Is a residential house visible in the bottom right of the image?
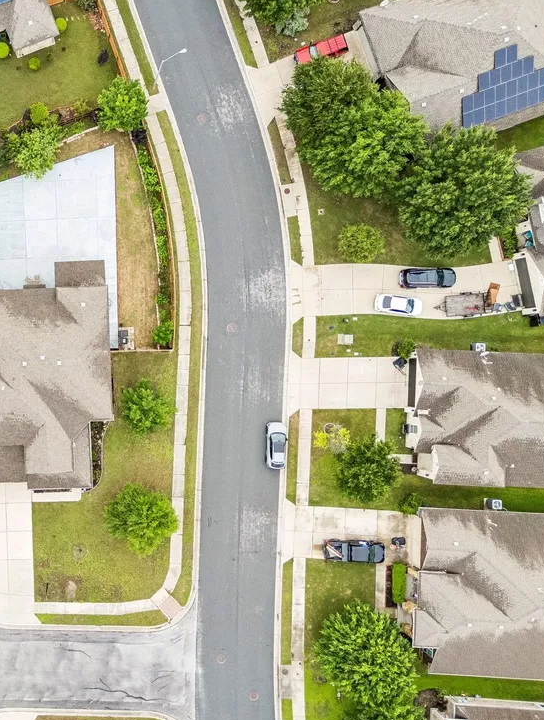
Yes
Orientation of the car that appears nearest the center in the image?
up and down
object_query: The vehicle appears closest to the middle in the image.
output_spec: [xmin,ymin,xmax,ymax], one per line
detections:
[264,421,289,469]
